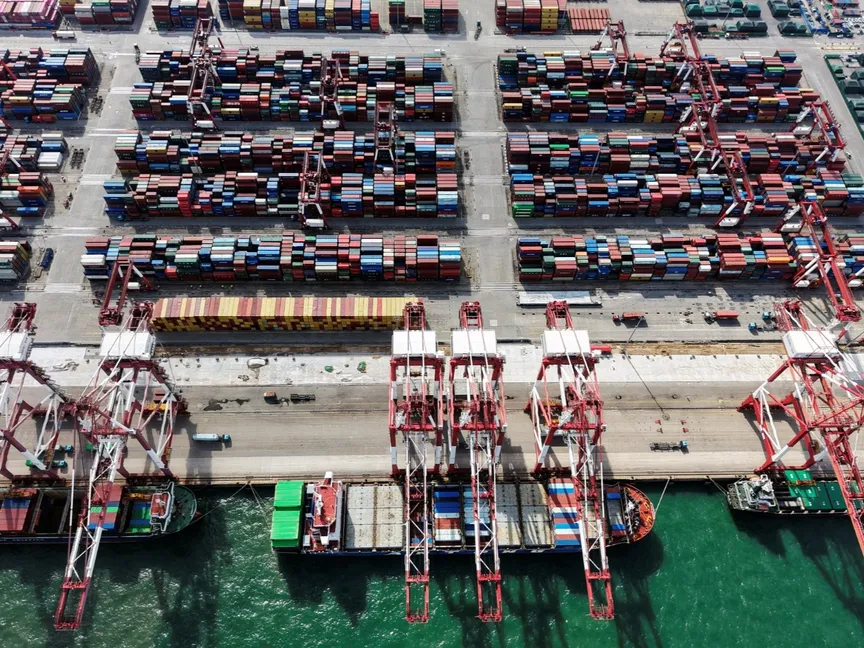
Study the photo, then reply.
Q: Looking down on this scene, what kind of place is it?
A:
port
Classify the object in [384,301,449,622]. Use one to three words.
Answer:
container crane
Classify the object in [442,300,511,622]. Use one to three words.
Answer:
container crane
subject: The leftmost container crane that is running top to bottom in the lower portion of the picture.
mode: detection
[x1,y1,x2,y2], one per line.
[0,302,83,494]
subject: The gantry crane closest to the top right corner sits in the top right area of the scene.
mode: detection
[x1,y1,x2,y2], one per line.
[788,106,852,181]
